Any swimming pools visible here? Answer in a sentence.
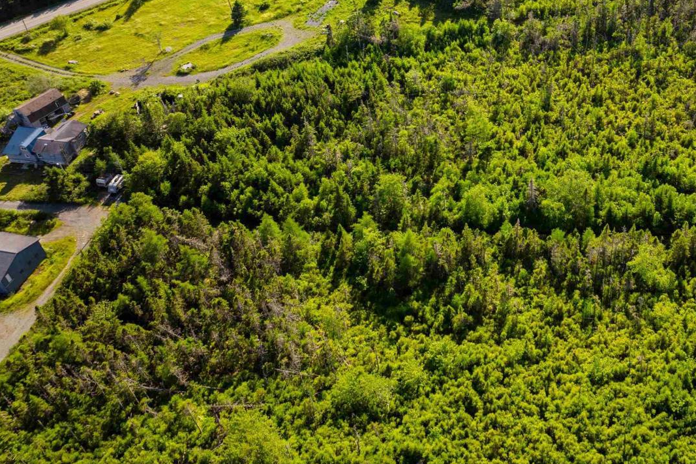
No, no swimming pool is visible in the view.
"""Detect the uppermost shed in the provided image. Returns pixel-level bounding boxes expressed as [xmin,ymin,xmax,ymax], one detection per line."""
[9,94,71,127]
